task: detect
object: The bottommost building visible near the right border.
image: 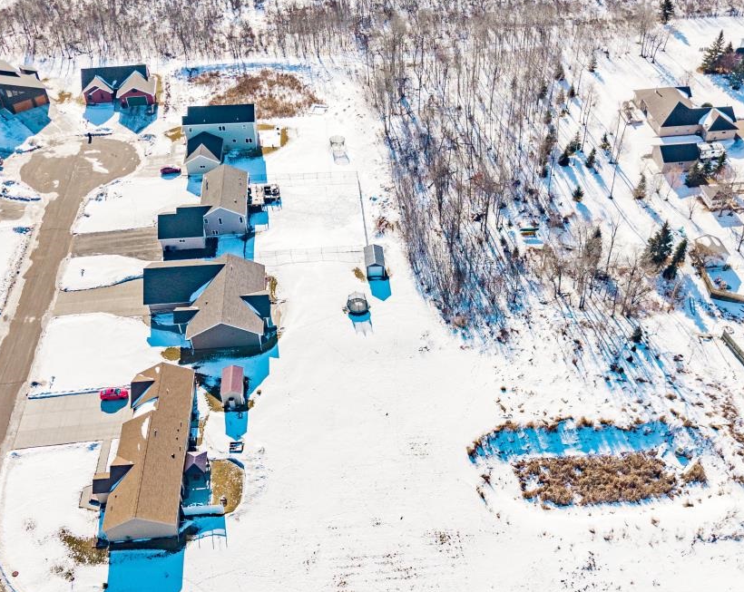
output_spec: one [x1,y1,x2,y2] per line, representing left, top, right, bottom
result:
[697,235,736,264]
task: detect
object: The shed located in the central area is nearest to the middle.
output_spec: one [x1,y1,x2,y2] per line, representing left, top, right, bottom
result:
[366,243,390,279]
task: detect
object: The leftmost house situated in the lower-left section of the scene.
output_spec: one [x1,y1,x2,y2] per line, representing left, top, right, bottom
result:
[93,363,196,542]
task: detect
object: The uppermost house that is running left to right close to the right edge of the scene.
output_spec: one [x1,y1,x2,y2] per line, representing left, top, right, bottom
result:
[620,79,738,141]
